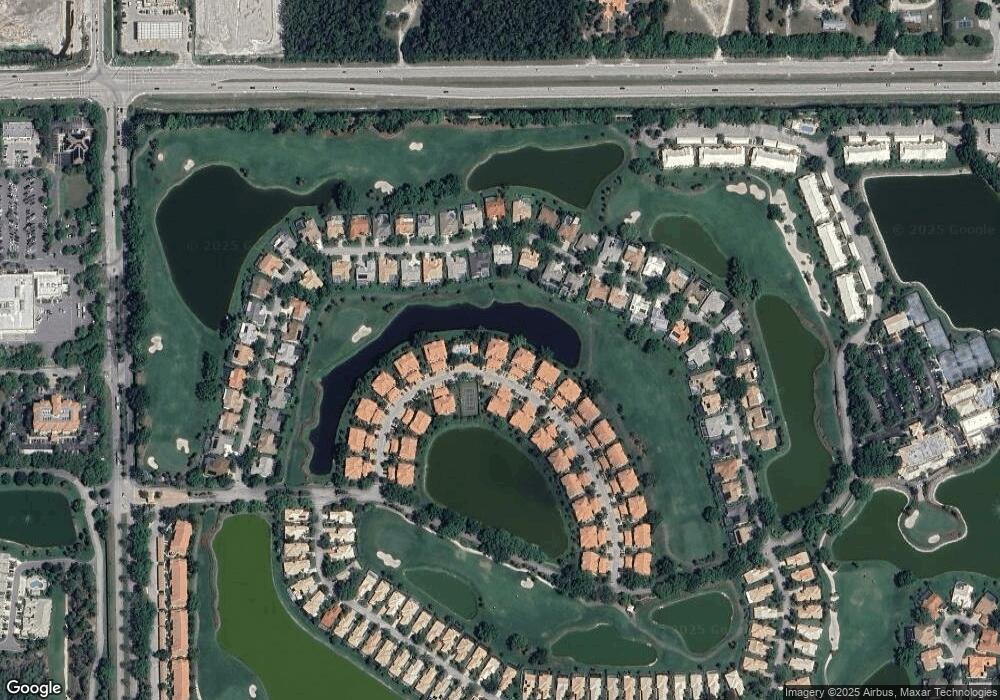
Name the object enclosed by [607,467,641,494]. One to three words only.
house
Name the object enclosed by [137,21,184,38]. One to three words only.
building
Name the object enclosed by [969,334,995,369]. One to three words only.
tennis court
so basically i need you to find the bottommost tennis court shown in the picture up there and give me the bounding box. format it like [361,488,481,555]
[460,382,479,416]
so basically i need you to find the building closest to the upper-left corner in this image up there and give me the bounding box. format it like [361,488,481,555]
[3,122,32,140]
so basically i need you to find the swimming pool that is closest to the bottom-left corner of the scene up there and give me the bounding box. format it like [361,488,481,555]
[26,577,48,592]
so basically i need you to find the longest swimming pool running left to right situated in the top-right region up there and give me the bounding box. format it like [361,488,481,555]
[792,121,818,136]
